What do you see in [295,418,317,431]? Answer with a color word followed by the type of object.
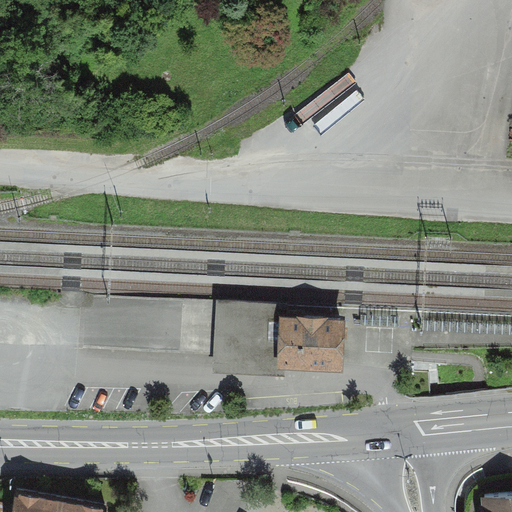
white vehicle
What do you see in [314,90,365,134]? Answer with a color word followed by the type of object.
white trailer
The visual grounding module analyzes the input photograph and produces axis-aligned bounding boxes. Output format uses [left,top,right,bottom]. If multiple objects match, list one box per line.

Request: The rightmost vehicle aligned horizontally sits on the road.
[366,440,392,452]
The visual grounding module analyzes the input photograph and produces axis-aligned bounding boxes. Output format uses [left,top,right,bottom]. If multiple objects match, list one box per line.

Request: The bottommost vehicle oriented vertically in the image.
[200,480,214,506]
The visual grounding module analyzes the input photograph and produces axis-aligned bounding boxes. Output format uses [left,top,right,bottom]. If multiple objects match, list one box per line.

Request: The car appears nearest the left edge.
[68,382,86,409]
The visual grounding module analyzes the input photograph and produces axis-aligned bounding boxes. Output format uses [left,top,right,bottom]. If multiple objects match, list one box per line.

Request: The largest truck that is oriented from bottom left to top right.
[284,72,358,136]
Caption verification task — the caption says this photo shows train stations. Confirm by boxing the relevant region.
[278,314,348,374]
